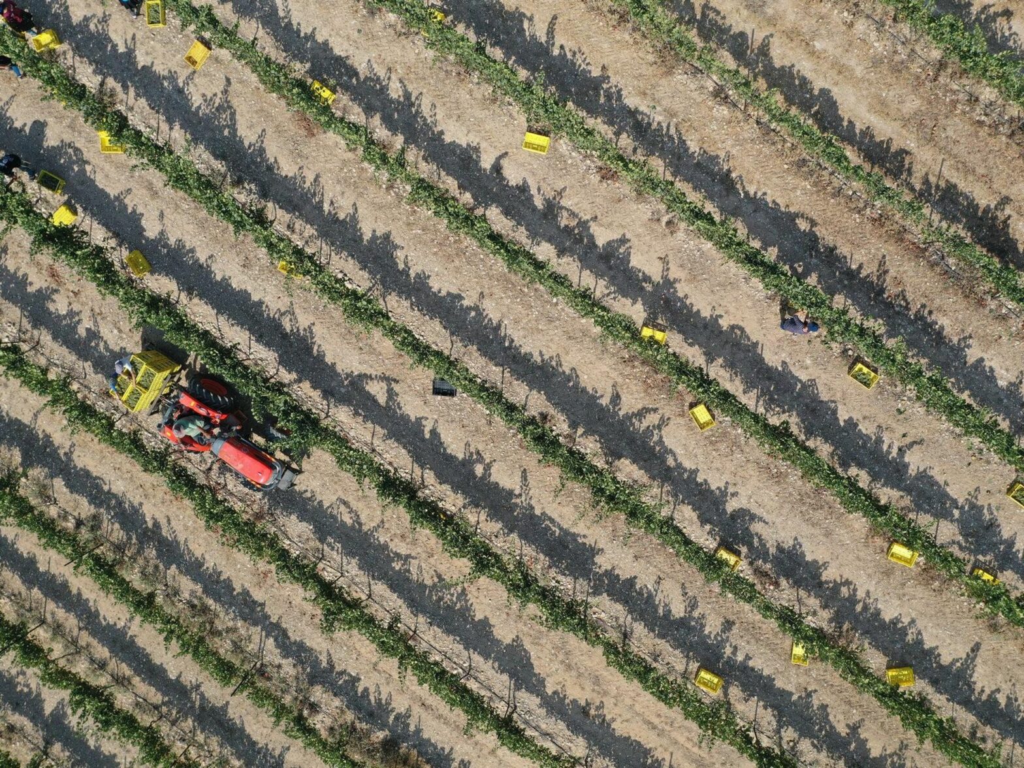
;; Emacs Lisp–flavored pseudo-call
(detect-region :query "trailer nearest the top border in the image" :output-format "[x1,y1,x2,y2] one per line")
[141,341,189,416]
